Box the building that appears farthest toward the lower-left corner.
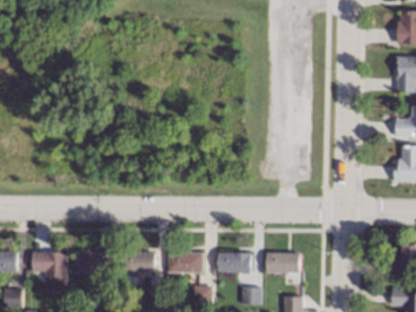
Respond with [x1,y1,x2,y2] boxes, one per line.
[1,289,23,310]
